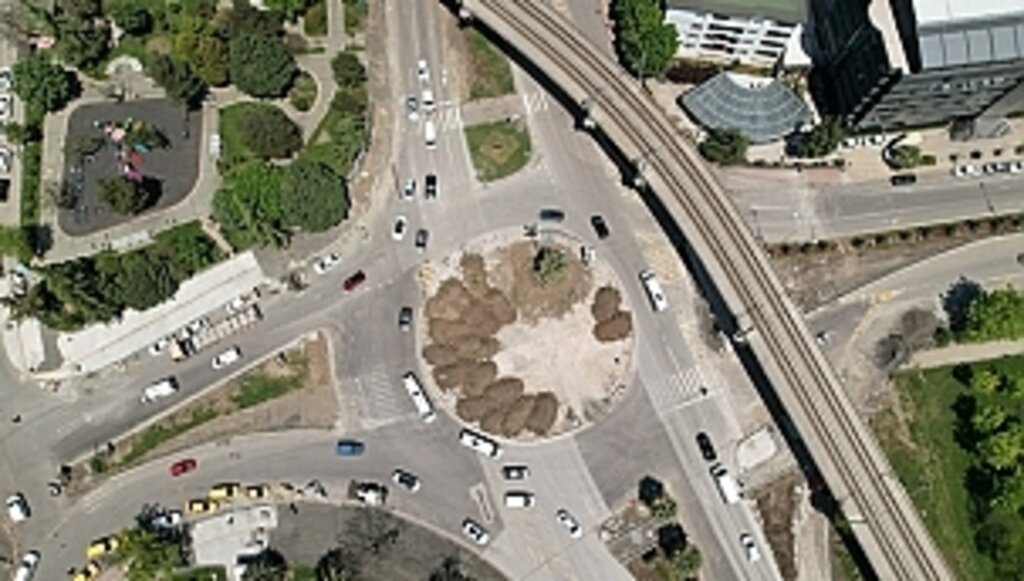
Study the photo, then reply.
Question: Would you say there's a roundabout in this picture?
Yes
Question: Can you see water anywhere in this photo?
No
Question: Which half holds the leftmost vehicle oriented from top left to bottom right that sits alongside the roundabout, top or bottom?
bottom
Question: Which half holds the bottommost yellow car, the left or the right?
left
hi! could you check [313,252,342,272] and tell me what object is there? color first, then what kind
white car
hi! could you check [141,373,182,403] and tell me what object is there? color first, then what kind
white van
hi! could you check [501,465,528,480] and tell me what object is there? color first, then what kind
gray car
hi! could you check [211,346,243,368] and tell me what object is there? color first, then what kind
white vehicle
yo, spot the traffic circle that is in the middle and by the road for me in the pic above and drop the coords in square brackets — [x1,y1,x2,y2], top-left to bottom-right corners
[419,232,635,444]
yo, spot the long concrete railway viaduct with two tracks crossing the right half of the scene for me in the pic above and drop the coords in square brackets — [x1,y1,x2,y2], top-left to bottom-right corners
[461,0,952,581]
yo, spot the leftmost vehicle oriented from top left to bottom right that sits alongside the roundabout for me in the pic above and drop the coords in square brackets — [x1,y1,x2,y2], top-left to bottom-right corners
[400,372,436,422]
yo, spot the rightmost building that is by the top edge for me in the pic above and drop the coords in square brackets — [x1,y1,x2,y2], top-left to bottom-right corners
[804,0,1024,126]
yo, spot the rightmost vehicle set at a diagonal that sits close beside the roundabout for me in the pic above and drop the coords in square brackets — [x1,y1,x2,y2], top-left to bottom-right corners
[638,272,669,312]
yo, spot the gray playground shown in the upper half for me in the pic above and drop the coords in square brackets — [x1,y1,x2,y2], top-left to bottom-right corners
[57,98,203,237]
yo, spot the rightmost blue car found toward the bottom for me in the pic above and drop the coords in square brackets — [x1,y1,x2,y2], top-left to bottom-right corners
[335,441,365,456]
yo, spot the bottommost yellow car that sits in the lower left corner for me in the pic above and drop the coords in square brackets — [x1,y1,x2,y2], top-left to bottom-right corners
[67,561,102,581]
